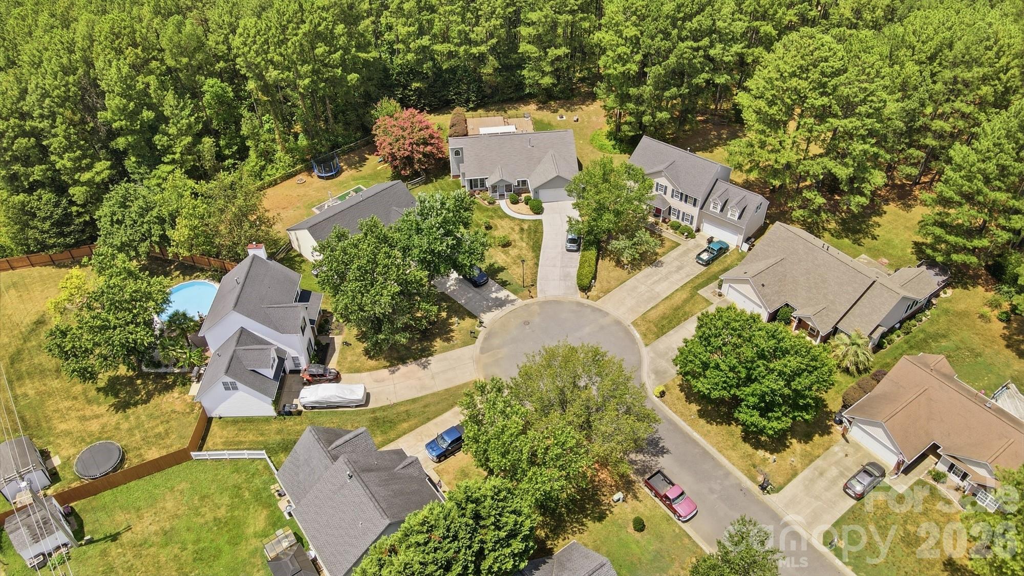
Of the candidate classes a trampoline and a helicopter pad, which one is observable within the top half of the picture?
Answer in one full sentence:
It is a trampoline that can be seen within the top half of the picture.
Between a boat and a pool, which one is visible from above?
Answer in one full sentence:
Of the two, only a pool appears.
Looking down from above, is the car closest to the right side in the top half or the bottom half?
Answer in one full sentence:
The car closest to the right side sits in the bottom half of the picture.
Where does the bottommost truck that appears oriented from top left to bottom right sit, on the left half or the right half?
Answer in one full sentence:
The bottommost truck that appears oriented from top left to bottom right appears in the right half of the scene.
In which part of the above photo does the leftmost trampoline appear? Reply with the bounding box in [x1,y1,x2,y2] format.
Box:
[74,441,127,484]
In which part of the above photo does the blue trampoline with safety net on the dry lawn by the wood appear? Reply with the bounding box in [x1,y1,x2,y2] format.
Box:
[308,150,341,181]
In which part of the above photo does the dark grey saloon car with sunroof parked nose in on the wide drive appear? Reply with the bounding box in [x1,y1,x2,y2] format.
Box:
[846,453,892,493]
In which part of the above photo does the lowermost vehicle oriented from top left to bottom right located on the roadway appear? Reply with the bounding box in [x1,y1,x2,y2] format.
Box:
[648,469,702,521]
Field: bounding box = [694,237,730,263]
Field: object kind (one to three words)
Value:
truck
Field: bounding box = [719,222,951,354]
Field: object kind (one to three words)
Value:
house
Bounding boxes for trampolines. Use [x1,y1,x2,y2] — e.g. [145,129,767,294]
[74,441,127,484]
[308,150,341,181]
